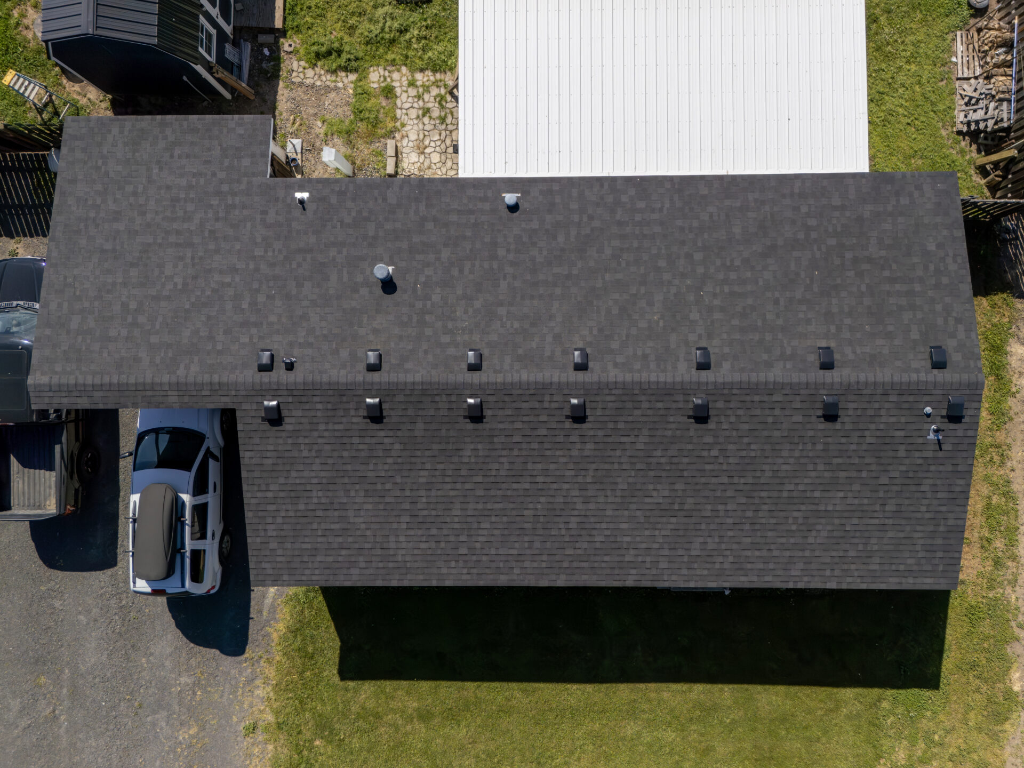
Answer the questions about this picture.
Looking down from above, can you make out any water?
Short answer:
No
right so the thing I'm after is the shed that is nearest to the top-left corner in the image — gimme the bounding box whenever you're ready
[49,0,232,98]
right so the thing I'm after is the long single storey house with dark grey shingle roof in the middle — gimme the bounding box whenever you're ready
[26,114,988,589]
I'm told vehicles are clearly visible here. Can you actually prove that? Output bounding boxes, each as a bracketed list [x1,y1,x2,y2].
[0,252,94,520]
[124,407,231,599]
